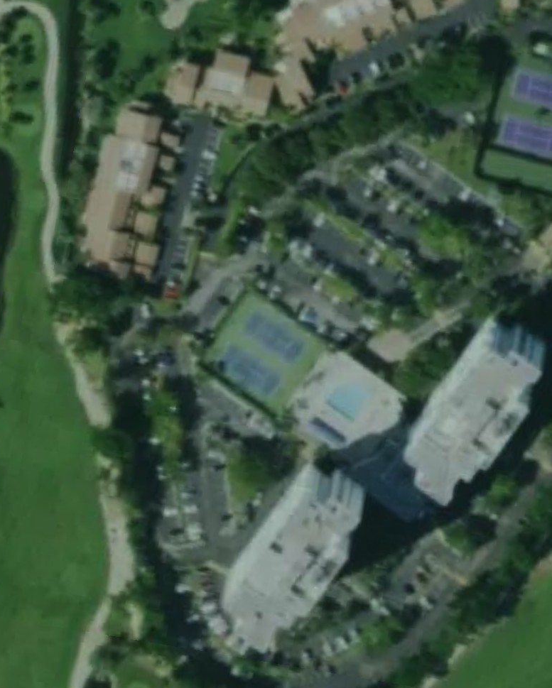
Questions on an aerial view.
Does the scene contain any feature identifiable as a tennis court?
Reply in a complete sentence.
Yes, the picture does show a tennis court.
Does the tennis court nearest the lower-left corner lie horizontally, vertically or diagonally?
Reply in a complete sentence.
The tennis court nearest the lower-left corner is oriented diagonally.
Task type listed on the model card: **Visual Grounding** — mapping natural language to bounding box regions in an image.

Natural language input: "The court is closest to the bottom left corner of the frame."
[213,342,284,401]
